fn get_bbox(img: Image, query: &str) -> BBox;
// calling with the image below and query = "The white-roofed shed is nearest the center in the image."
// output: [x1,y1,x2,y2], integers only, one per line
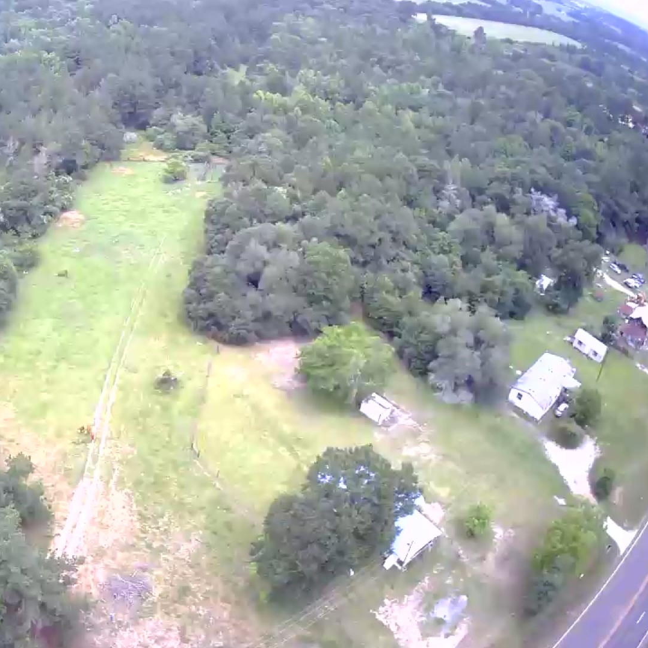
[356,395,402,435]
